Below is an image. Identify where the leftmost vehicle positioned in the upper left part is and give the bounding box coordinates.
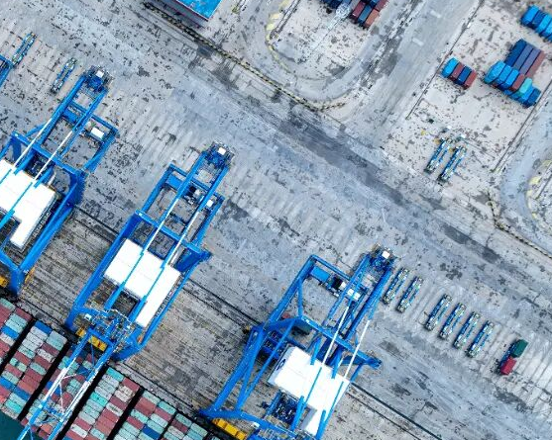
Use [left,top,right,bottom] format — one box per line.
[10,29,37,66]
